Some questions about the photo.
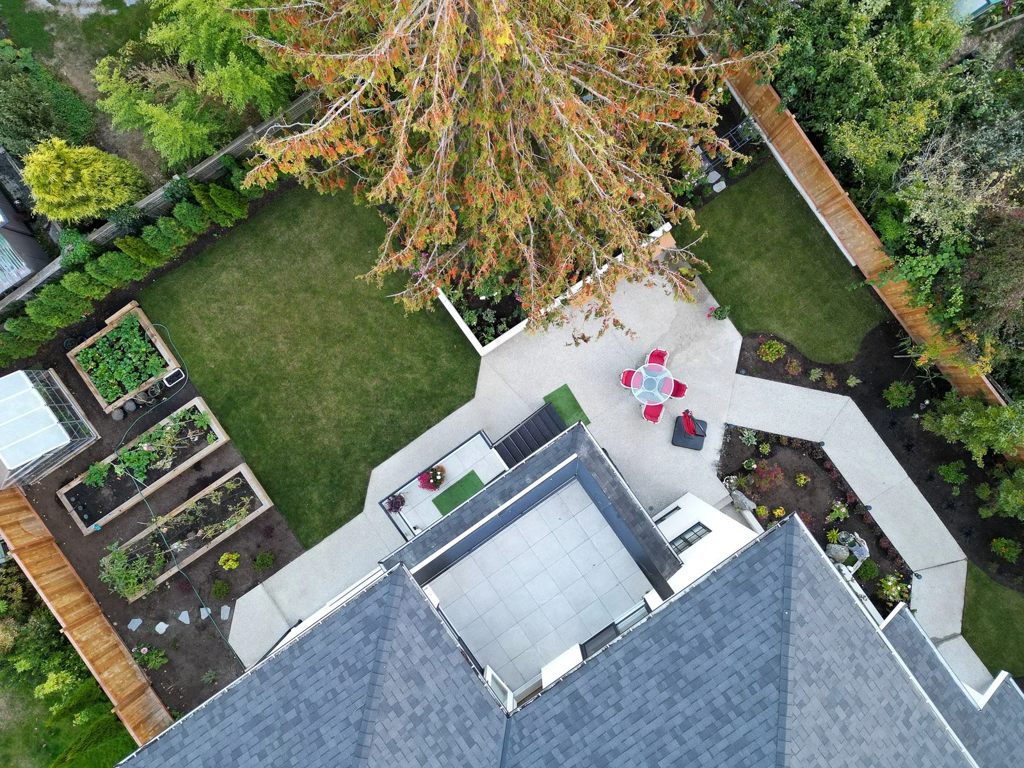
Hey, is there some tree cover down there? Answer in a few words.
Yes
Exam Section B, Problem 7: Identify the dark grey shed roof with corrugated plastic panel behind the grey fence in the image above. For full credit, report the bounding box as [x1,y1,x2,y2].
[0,188,49,299]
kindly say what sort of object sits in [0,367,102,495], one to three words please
greenhouse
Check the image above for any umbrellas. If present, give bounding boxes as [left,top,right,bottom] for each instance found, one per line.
[672,409,708,451]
